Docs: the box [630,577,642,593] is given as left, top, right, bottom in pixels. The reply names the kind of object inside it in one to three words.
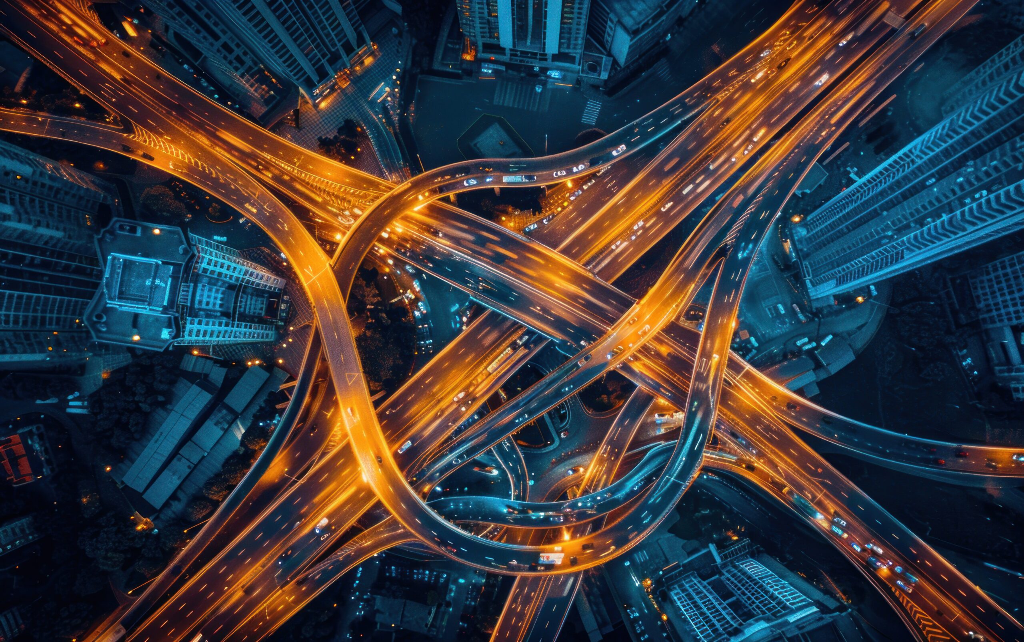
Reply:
vehicle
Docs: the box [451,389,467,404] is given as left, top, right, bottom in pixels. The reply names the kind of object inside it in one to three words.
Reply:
vehicle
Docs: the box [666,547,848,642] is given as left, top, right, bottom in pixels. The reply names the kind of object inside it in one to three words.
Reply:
building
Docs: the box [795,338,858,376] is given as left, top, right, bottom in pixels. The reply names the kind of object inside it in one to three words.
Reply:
shed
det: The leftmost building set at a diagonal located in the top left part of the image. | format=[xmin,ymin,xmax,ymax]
[124,0,295,126]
